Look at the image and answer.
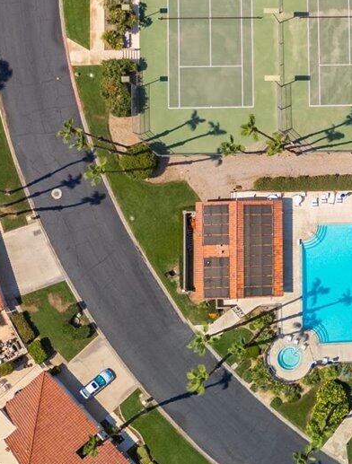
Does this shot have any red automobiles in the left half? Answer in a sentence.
No, there's no red automobile to be seen in the left half.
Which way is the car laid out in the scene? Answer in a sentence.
Seen from above, the car lies at an angle.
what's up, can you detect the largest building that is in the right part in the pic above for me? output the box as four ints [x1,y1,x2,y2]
[195,200,283,299]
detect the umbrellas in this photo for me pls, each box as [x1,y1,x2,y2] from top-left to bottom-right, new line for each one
[293,195,305,207]
[269,191,279,200]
